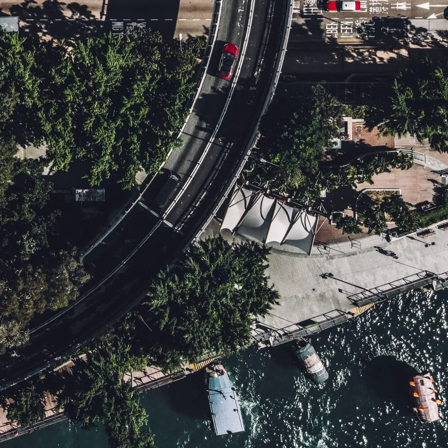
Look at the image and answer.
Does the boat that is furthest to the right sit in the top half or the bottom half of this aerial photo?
bottom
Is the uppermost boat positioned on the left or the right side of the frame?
right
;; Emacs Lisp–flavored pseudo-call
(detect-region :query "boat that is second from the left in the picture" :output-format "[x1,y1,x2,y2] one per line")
[289,336,333,390]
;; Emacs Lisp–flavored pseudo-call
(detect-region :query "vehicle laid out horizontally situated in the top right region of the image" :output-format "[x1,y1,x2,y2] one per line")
[328,0,360,13]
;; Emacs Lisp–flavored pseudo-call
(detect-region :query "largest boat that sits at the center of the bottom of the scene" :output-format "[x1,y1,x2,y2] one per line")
[199,366,240,438]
